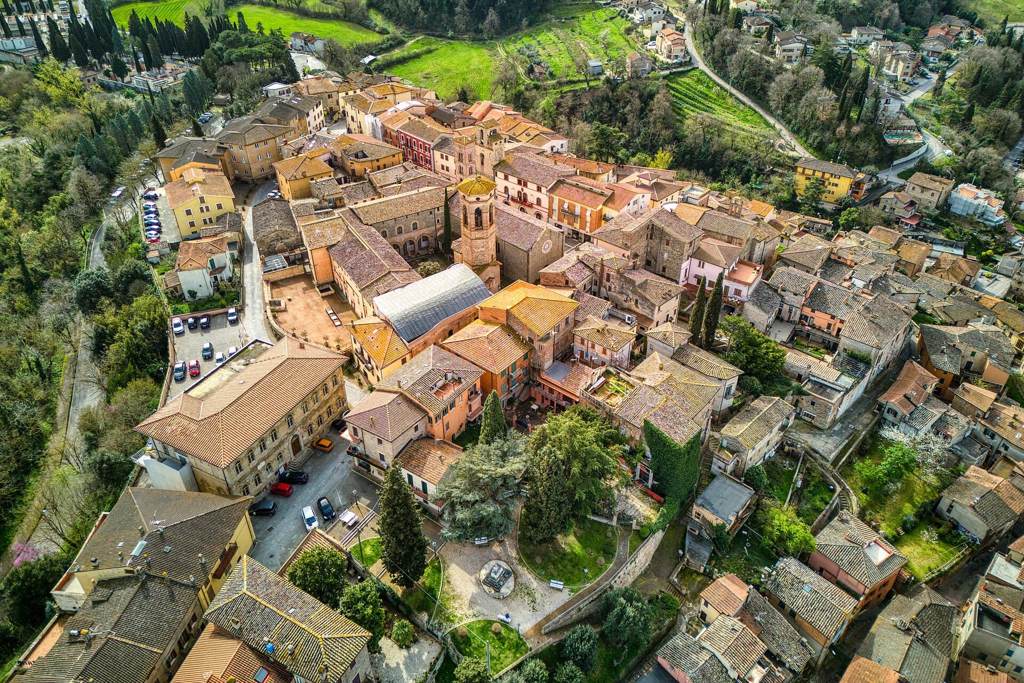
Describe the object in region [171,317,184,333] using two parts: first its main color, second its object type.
white vehicle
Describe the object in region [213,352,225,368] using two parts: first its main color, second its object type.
white vehicle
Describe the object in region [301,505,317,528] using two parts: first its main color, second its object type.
white car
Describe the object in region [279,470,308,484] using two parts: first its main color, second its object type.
black car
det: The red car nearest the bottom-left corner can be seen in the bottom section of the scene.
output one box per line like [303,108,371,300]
[268,481,293,496]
